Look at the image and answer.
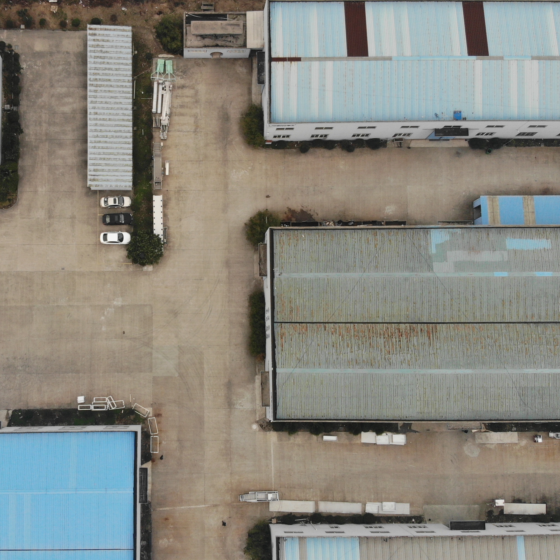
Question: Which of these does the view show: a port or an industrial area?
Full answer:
The picture captures an industrial area.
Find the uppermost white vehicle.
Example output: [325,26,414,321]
[100,196,132,210]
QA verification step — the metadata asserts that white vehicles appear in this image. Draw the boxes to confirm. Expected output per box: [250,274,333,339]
[100,196,132,210]
[100,231,130,245]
